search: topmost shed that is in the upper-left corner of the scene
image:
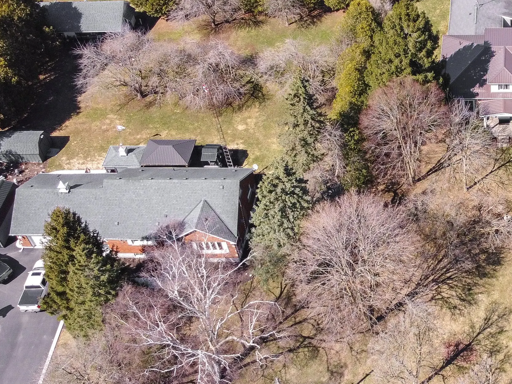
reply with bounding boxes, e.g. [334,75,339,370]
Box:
[45,0,139,46]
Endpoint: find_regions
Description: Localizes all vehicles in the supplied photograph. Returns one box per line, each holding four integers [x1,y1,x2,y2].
[0,263,13,287]
[13,262,51,314]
